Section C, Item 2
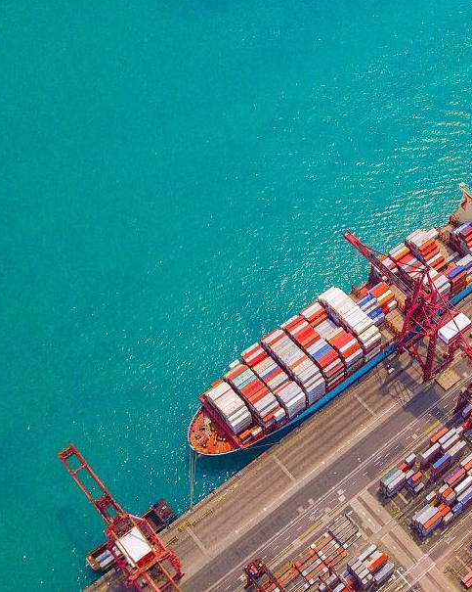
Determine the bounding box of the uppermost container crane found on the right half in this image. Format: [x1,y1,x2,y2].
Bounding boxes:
[339,233,472,383]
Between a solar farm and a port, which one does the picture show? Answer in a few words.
port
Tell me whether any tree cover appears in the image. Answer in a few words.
No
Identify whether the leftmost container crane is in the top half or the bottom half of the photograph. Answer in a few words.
bottom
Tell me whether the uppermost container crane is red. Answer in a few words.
Yes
